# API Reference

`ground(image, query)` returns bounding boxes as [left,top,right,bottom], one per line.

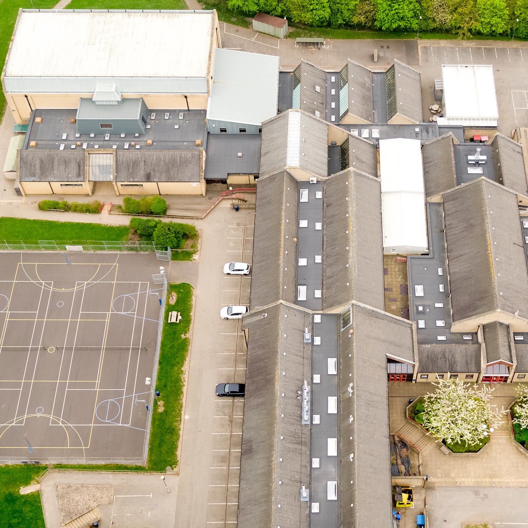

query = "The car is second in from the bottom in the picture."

[220,305,248,320]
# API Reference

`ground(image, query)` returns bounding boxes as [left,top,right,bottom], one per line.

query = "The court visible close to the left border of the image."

[0,252,171,465]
